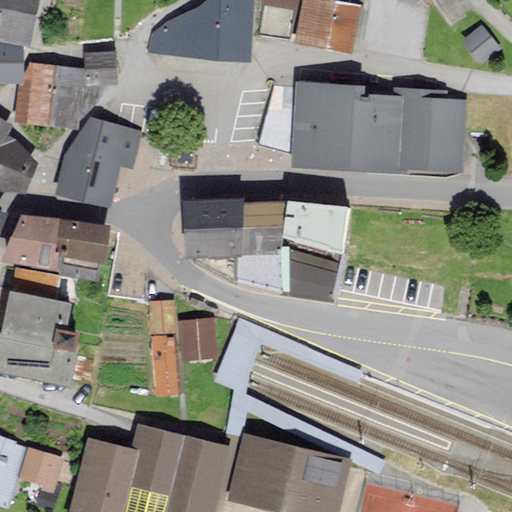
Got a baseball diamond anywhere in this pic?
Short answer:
No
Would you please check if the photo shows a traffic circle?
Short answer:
No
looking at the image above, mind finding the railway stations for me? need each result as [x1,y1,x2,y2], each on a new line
[214,318,512,474]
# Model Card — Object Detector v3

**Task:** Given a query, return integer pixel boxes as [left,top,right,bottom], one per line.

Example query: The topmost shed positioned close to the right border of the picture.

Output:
[463,24,502,64]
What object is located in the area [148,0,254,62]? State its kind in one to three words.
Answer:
barn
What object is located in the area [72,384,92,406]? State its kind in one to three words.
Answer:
car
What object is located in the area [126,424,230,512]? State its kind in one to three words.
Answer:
building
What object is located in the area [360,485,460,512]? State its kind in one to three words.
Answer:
sports court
